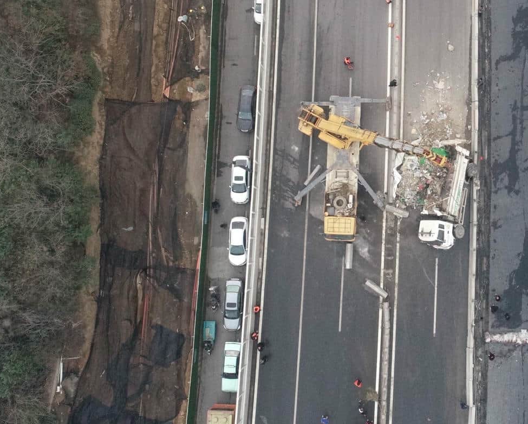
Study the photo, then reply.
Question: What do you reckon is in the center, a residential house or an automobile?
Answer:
automobile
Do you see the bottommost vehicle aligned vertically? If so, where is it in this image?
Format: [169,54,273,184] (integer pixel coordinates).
[216,342,240,396]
